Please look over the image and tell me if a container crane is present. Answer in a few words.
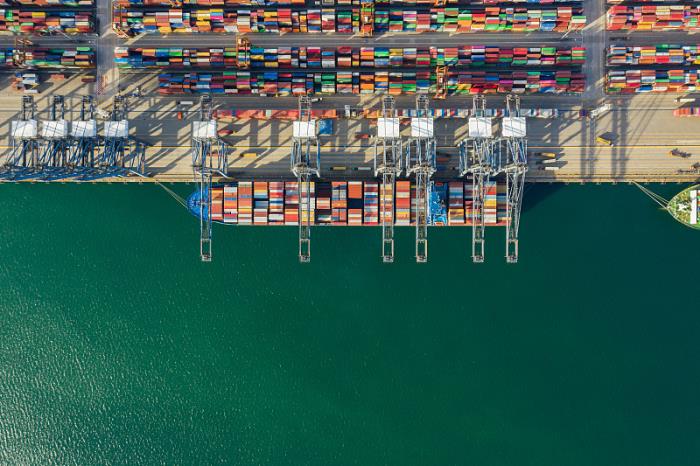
Yes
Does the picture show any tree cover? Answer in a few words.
No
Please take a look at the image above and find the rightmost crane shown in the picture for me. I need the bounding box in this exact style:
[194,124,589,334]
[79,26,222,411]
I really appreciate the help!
[485,98,527,262]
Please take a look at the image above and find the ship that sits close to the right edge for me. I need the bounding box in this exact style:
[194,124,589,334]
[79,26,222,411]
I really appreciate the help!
[665,184,700,231]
